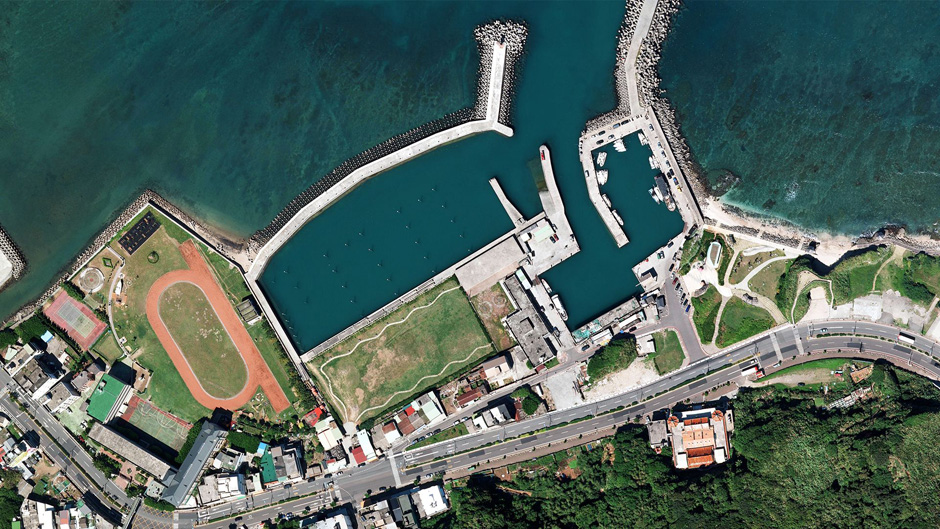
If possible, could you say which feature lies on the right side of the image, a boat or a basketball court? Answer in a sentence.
The one visible on the right side of the image is a boat.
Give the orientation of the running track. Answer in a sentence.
In this picture, the running track lies on a diagonal.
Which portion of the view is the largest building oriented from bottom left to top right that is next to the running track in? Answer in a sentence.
You can find the largest building oriented from bottom left to top right that is next to the running track in the bottom left area of the picture.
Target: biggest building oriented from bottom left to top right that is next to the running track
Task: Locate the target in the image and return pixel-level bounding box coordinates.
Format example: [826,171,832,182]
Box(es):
[162,420,234,506]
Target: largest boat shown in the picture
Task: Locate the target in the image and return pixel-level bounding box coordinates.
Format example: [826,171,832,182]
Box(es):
[655,174,673,212]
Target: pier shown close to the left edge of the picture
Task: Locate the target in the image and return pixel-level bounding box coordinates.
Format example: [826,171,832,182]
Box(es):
[0,241,22,289]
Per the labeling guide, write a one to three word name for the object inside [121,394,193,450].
basketball court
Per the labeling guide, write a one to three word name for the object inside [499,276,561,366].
building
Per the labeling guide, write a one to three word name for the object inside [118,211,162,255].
playground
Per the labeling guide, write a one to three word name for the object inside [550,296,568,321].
boat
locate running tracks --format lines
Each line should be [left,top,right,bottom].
[147,239,291,413]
